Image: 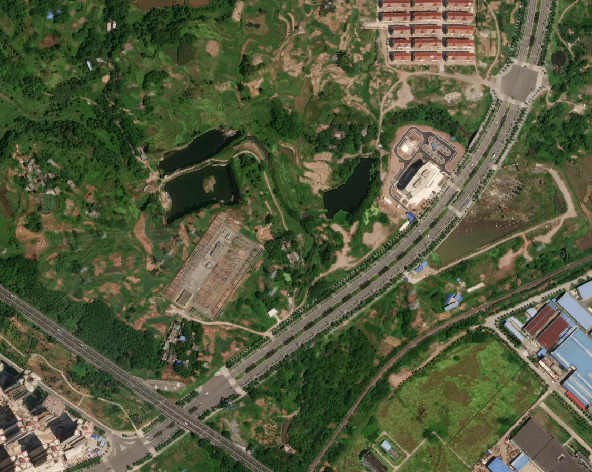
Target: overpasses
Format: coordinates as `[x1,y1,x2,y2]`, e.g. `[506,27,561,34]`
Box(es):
[151,393,213,440]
